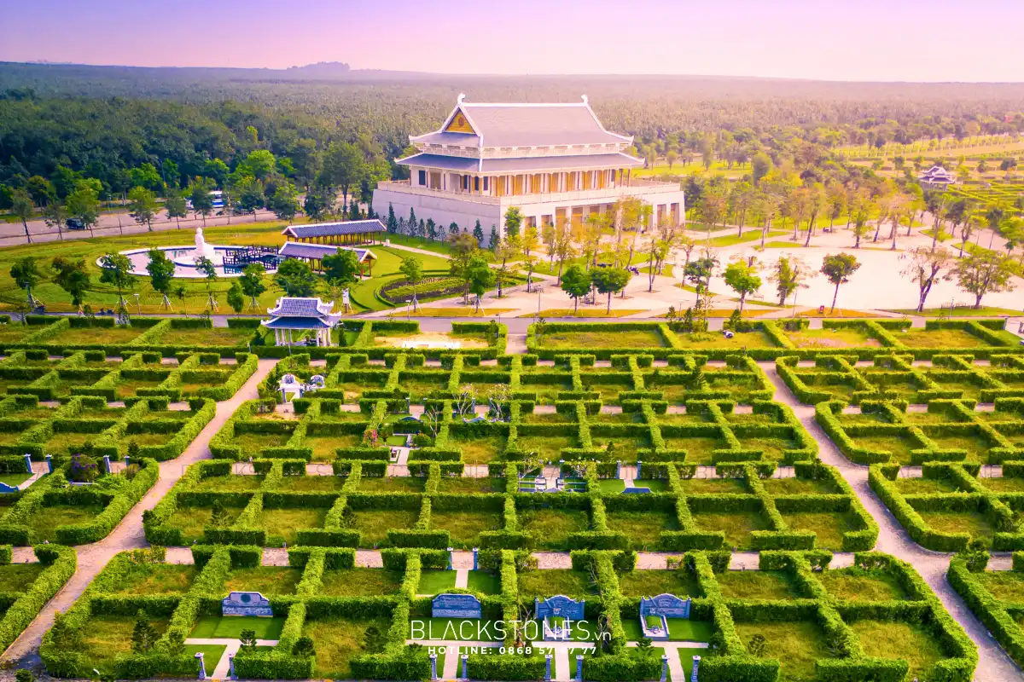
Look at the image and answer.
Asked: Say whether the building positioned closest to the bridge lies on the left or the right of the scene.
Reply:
left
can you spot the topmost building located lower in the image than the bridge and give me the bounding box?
[259,292,343,349]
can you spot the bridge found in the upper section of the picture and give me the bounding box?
[229,245,314,267]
